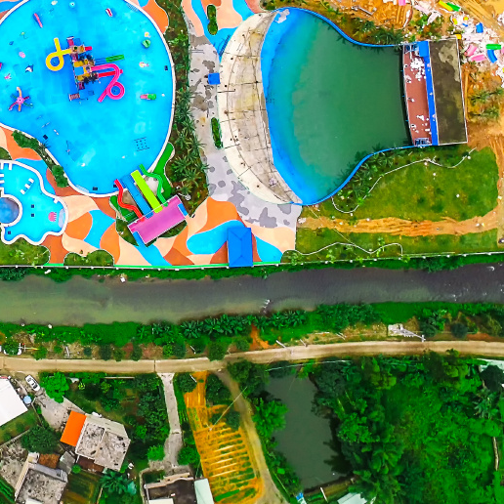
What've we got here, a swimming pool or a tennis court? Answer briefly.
swimming pool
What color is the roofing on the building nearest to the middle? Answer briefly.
blue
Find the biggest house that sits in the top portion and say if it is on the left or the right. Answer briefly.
right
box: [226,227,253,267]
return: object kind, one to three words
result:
building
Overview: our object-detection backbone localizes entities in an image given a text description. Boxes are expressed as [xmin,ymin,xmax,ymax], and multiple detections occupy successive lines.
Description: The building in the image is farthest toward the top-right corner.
[403,38,468,145]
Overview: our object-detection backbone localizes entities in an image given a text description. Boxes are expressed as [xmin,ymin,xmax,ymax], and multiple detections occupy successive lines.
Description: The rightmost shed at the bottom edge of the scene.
[333,486,369,504]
